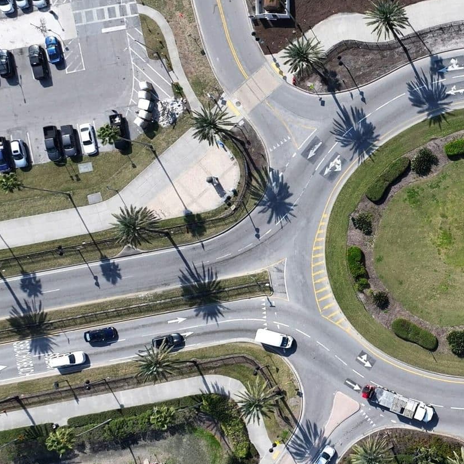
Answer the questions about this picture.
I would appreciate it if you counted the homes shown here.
0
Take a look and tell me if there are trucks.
Yes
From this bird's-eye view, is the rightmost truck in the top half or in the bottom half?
bottom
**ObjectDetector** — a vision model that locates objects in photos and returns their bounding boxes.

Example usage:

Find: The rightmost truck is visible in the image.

[370,384,437,420]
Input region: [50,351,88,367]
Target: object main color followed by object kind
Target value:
white car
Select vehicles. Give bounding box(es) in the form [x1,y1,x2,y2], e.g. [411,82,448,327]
[45,35,63,65]
[32,0,48,8]
[50,351,88,367]
[150,333,187,349]
[370,384,437,420]
[42,124,64,161]
[0,49,14,81]
[0,0,16,15]
[314,444,336,464]
[16,0,31,11]
[254,328,296,349]
[80,122,99,155]
[8,138,29,169]
[0,136,13,172]
[362,383,375,399]
[84,327,119,343]
[57,123,79,158]
[27,45,47,82]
